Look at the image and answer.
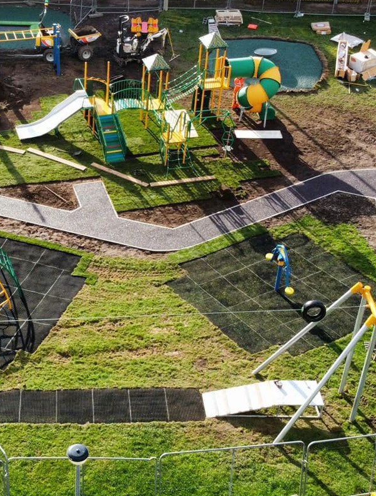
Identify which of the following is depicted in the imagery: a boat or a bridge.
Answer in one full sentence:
There is a bridge in the scene.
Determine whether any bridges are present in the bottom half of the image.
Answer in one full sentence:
No, there is no bridge in the bottom half of the image.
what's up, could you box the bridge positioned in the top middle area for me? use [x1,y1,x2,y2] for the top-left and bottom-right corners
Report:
[160,64,207,106]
